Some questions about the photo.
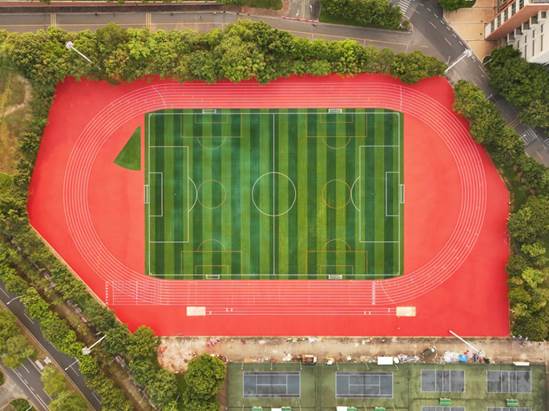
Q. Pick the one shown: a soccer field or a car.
soccer field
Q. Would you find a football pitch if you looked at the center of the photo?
Yes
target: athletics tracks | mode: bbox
[28,64,510,337]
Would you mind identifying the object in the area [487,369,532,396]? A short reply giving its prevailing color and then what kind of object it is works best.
gray sports court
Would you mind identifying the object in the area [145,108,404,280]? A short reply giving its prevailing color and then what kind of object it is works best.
green soccer field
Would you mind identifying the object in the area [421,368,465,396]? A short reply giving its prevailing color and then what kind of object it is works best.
gray sports court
